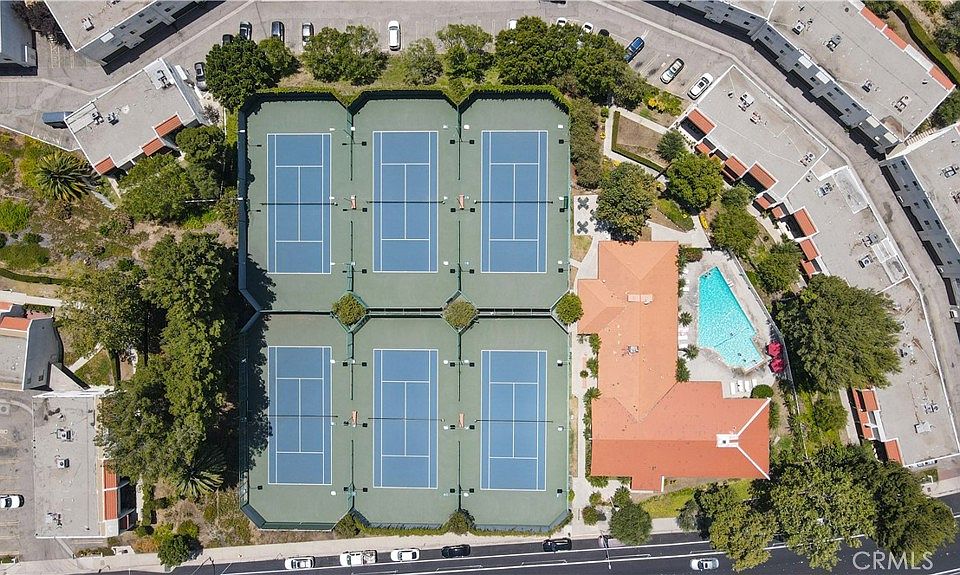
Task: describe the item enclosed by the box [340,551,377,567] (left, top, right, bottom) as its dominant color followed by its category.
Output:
white vehicle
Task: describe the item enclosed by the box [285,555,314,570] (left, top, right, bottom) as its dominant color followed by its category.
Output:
white car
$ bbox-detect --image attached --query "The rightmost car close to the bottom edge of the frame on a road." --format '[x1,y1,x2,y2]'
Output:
[690,556,718,571]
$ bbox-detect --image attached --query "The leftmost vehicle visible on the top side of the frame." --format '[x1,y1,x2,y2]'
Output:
[40,111,70,124]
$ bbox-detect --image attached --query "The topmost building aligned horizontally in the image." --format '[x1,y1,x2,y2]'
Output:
[44,0,205,67]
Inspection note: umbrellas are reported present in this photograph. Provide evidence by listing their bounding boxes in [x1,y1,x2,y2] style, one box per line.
[766,340,782,356]
[769,356,785,372]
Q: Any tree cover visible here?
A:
Yes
